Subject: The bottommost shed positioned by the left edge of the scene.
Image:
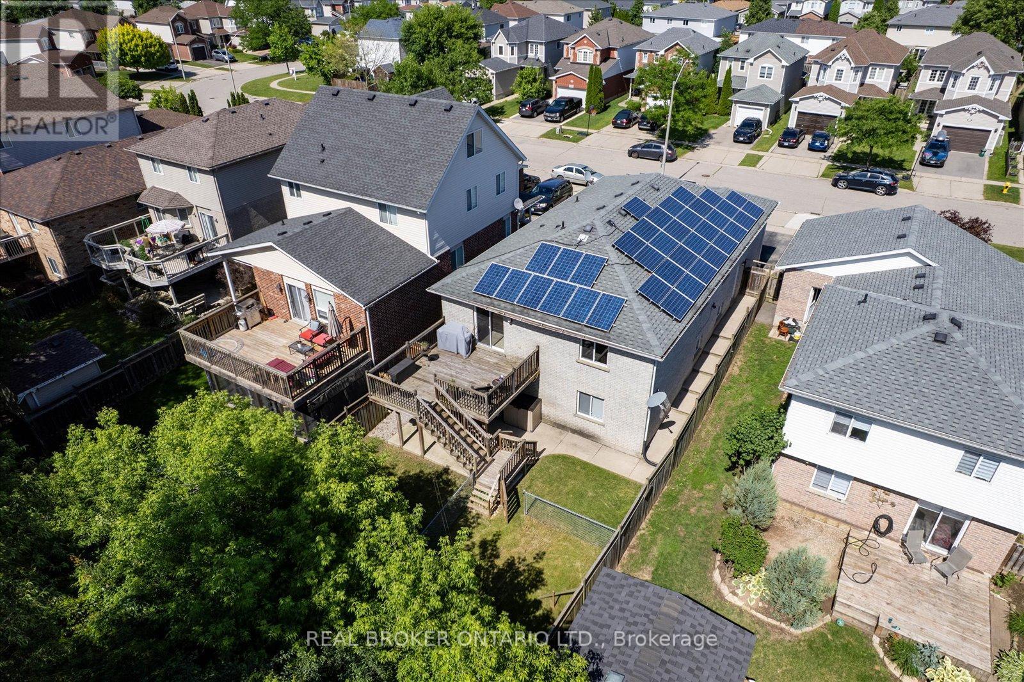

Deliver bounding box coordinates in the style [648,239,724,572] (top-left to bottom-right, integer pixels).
[0,320,113,430]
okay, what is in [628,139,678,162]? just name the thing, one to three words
car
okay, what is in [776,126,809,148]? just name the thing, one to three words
car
